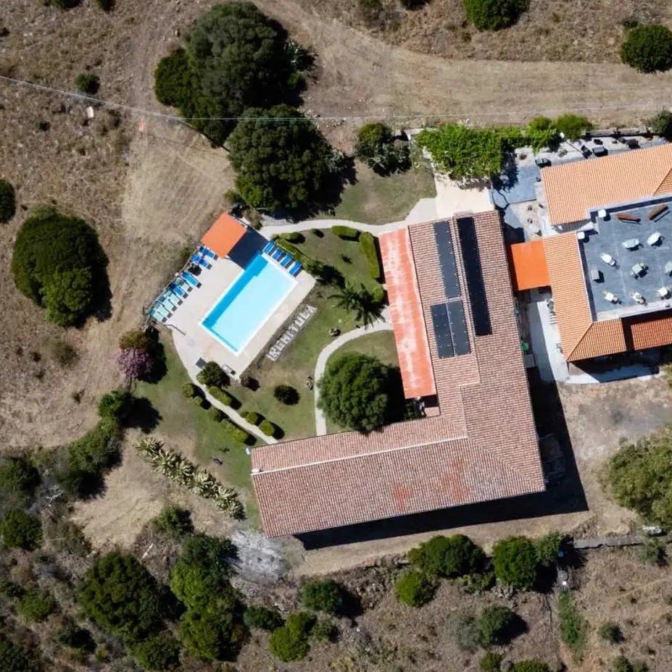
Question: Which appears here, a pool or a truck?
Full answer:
The image shows a pool.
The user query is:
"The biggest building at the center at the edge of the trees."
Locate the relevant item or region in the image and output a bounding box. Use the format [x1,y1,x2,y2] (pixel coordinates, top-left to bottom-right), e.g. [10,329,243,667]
[249,211,545,537]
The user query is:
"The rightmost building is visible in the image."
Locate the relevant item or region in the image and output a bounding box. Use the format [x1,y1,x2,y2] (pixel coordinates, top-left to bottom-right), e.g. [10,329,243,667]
[540,142,672,361]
